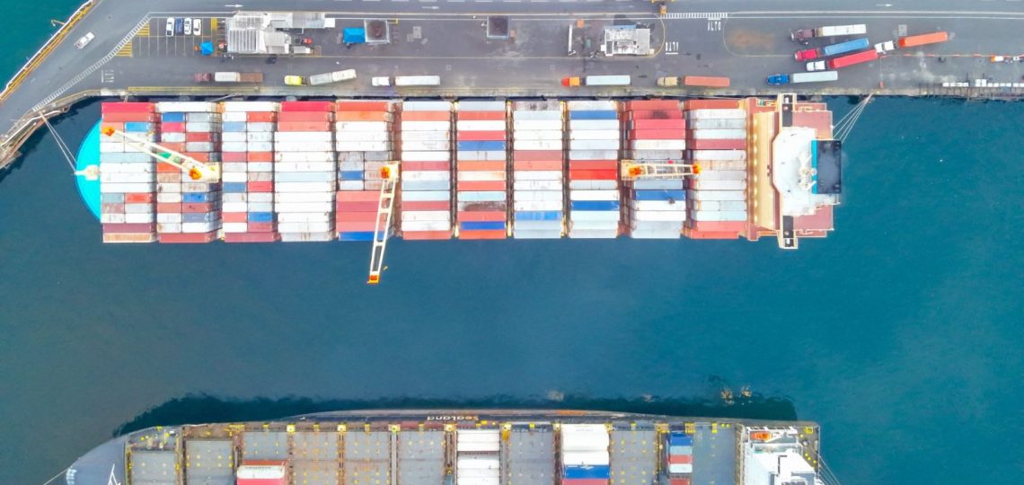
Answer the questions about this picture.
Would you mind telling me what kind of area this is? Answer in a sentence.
What you see here is a port.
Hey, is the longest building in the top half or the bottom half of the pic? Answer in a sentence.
The top half of the photo is where the longest building is.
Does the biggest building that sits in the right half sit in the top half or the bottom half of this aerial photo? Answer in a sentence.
Seen from above, the biggest building that sits in the right half lies in the top half of the view.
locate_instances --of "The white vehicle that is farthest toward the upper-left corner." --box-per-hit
[76,33,95,49]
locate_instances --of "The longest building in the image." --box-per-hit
[226,11,327,55]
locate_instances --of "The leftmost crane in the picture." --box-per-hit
[104,126,232,183]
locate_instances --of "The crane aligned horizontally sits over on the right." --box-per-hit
[617,160,698,182]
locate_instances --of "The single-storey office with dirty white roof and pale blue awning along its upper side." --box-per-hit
[604,25,650,57]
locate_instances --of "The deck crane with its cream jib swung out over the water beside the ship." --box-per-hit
[368,162,402,284]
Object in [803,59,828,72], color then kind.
white vehicle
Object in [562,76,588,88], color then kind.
red vehicle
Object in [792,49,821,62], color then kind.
red vehicle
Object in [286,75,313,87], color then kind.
yellow vehicle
